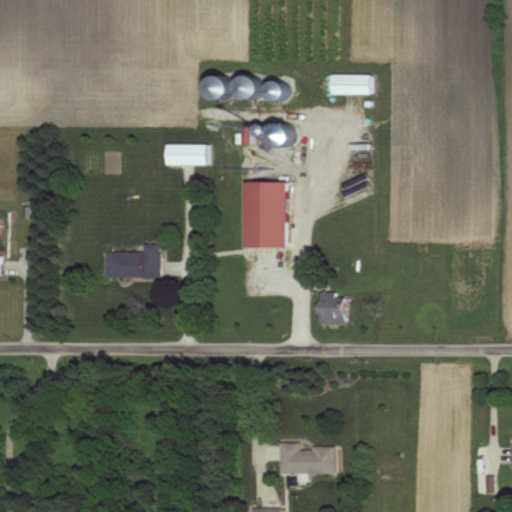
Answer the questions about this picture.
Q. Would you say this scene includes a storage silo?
Yes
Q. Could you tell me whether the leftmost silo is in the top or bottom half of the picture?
top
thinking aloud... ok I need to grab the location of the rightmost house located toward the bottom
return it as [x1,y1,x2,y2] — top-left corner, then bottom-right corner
[316,292,350,324]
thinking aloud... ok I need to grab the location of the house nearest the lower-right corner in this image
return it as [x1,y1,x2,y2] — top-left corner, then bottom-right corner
[280,444,338,474]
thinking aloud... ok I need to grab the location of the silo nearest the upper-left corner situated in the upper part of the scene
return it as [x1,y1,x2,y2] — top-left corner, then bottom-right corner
[198,75,232,102]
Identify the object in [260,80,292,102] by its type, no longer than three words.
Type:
silo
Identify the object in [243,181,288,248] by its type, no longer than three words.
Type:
barn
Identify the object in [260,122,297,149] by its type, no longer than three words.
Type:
silo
